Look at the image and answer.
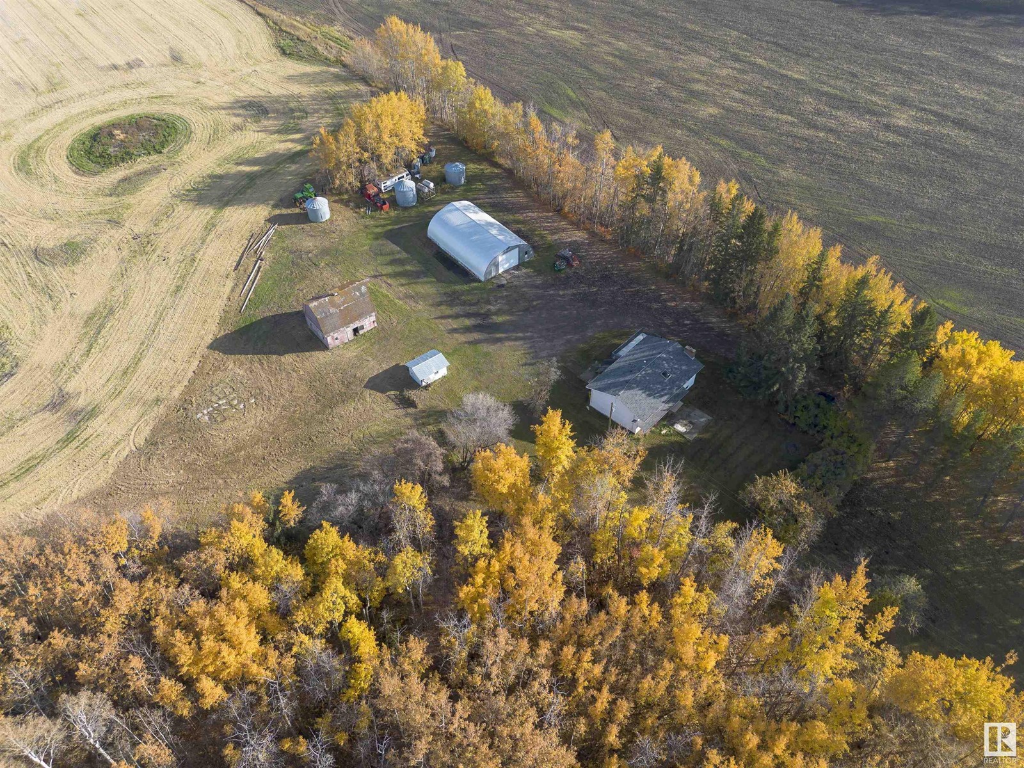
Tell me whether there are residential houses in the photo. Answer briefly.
Yes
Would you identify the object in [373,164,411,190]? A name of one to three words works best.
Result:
vehicle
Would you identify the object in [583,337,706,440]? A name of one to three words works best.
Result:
house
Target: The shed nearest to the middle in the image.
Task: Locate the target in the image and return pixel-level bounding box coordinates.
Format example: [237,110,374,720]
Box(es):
[403,350,450,385]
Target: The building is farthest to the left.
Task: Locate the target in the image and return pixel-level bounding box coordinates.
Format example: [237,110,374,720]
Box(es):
[296,282,385,349]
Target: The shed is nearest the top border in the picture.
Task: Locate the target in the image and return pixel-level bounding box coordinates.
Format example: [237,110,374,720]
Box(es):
[424,202,535,280]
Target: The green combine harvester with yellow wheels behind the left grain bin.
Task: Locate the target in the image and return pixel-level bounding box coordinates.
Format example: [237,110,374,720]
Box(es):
[291,189,318,209]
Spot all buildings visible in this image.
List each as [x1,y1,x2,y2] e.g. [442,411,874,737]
[296,282,385,349]
[583,337,706,440]
[403,350,450,385]
[424,202,535,280]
